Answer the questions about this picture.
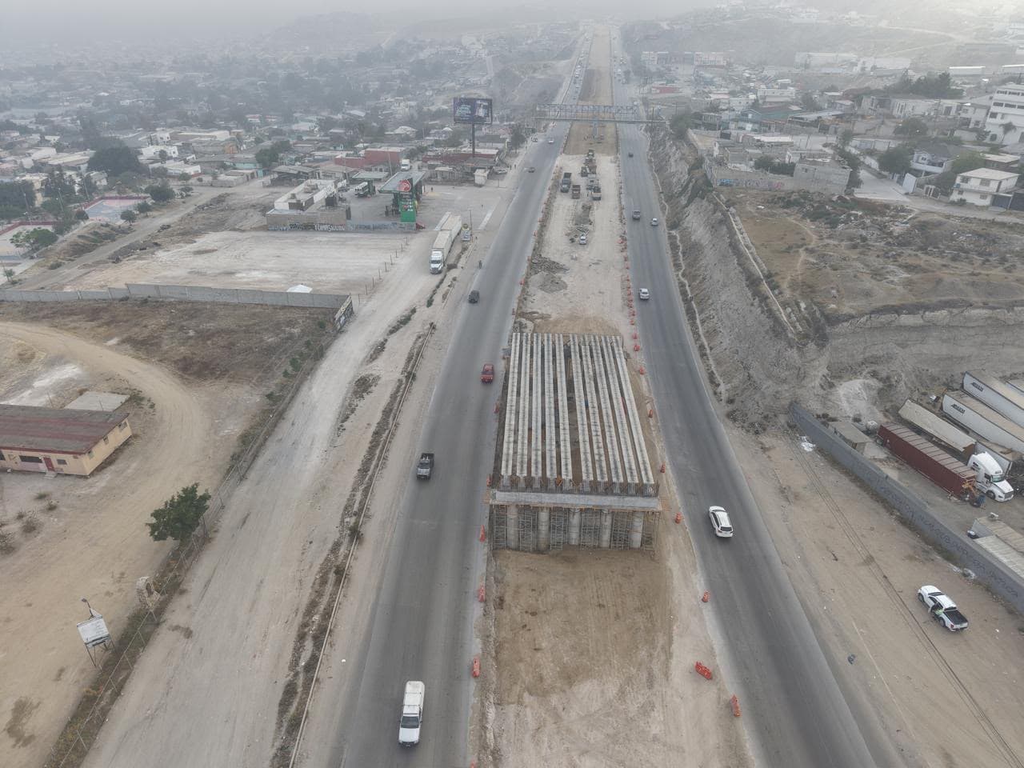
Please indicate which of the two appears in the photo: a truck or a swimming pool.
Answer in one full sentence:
This aerial view contains a truck.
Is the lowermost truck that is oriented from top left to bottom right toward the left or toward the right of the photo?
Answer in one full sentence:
You can find the lowermost truck that is oriented from top left to bottom right on the right side of the picture.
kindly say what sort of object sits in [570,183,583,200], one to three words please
vehicle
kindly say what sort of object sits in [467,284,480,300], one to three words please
vehicle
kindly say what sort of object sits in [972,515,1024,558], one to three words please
shed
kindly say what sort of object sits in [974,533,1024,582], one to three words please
shed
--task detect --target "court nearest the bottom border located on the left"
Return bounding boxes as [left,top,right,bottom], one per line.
[0,218,62,264]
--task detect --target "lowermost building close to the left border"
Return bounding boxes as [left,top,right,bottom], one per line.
[0,404,133,481]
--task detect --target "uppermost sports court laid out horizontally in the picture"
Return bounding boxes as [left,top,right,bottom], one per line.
[82,194,150,222]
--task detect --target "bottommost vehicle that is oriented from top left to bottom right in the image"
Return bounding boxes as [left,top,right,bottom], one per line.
[918,587,978,636]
